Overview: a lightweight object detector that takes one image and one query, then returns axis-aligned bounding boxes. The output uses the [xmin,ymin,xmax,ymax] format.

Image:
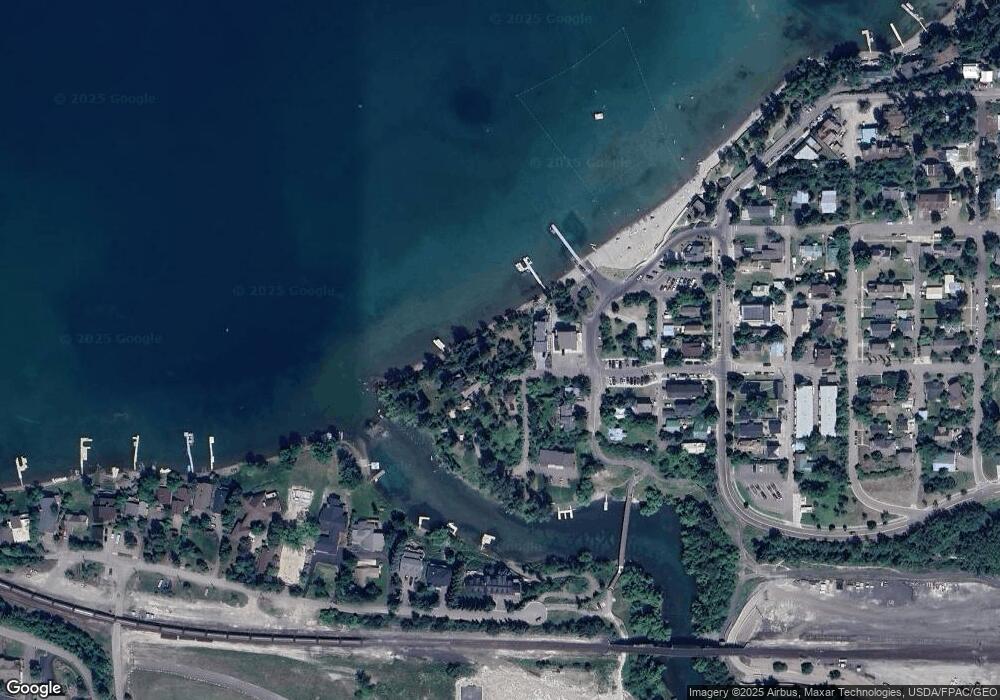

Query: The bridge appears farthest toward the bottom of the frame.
[608,641,746,659]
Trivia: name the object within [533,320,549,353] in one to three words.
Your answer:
house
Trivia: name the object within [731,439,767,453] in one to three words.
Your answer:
house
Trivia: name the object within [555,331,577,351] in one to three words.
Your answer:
building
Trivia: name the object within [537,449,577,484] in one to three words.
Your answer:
building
